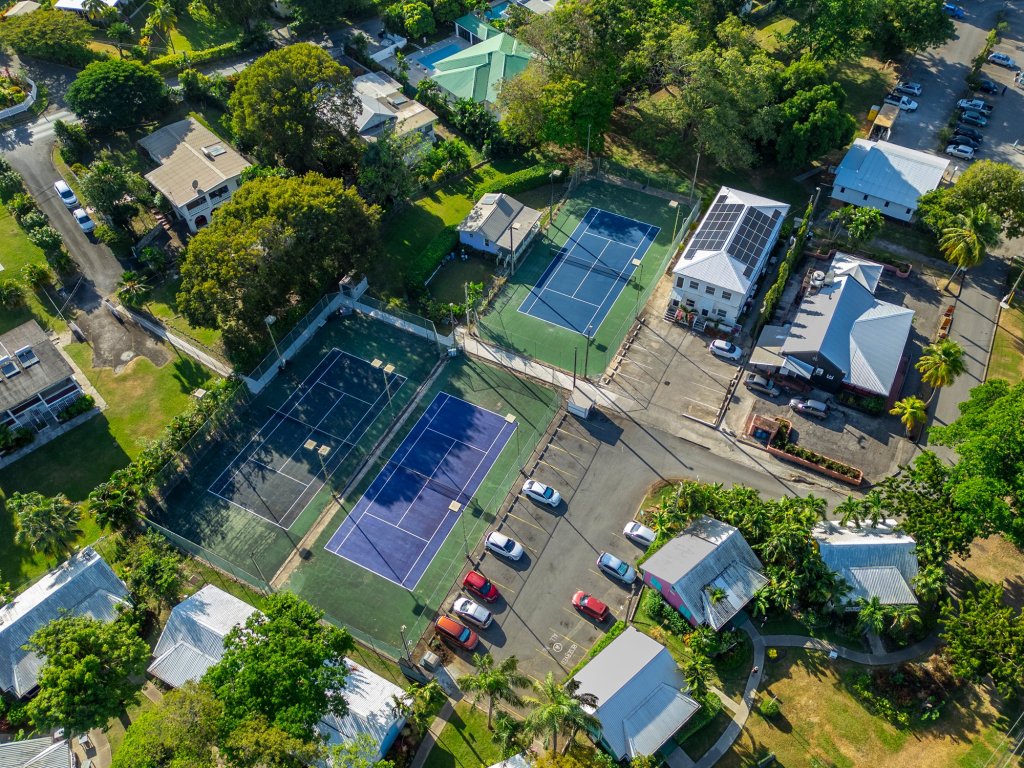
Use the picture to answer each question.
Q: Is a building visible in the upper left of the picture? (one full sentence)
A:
Yes, I can see a building in the upper left of the picture.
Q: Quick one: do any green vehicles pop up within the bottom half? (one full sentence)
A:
No, no green vehicle can be made out within the bottom half.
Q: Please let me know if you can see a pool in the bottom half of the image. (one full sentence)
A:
No, the scene shows no pool in the bottom half of the image.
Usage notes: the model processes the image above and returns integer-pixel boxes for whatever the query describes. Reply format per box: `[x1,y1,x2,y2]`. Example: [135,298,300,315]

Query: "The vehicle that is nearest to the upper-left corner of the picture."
[55,181,78,204]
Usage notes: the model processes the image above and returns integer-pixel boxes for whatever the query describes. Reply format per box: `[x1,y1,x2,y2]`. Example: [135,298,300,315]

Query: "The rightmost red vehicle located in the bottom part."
[568,587,611,622]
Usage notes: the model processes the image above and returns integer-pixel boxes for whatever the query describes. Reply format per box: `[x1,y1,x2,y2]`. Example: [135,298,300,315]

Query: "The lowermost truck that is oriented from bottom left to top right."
[869,104,900,141]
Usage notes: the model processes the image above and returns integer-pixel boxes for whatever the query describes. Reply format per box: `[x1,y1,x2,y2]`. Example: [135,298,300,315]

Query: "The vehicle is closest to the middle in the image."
[521,478,561,507]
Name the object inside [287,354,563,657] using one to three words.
tennis court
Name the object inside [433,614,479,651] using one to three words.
car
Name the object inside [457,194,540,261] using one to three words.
house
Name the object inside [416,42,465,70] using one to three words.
swimming pool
